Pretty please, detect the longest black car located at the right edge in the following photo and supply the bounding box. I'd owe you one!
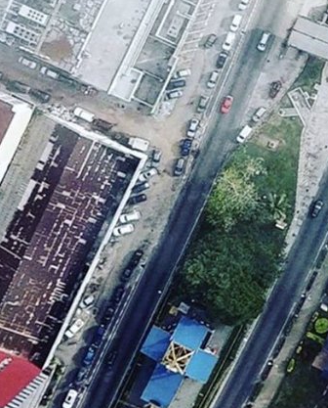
[310,198,322,218]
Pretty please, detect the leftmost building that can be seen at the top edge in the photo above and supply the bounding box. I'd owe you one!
[0,0,104,72]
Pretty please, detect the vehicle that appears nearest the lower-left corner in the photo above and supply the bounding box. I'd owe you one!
[63,390,77,408]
